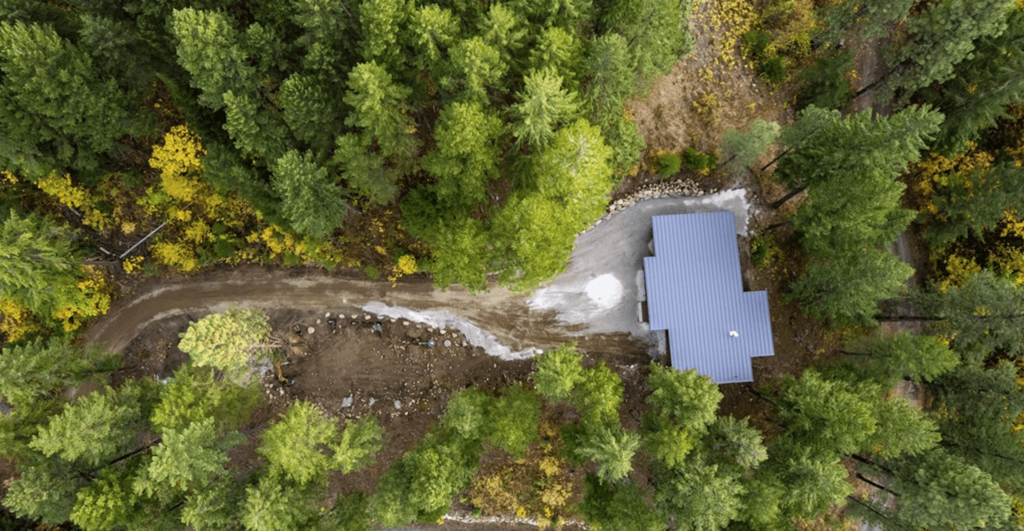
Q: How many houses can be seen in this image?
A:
1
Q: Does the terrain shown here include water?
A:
No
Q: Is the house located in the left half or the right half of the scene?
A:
right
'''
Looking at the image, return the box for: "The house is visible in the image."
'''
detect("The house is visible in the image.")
[640,209,774,387]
